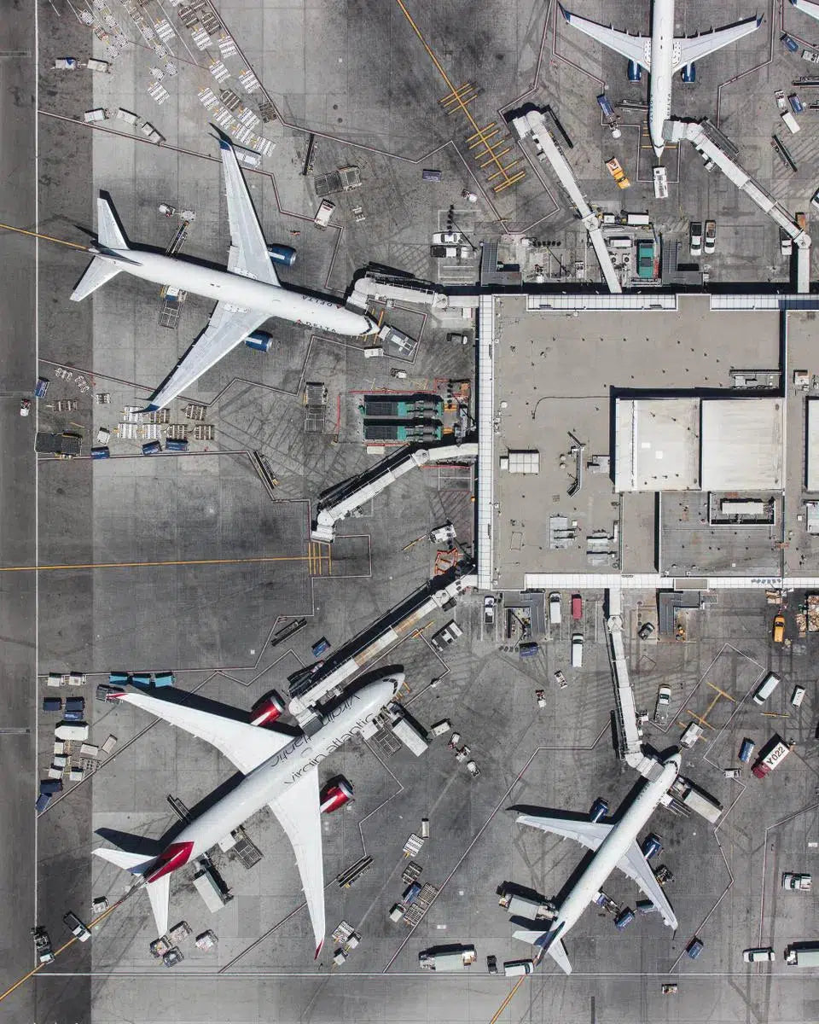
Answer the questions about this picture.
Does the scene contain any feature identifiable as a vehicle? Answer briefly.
Yes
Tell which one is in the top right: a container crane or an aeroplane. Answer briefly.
aeroplane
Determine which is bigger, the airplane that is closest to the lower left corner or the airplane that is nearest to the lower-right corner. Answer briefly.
the airplane that is closest to the lower left corner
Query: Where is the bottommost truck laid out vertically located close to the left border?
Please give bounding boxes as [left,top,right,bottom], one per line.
[34,926,55,966]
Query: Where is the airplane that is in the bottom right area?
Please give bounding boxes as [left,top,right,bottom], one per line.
[512,754,682,974]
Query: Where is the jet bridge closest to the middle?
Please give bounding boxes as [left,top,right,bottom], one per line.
[311,442,479,543]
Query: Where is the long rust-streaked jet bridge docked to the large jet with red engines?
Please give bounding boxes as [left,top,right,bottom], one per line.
[287,570,479,737]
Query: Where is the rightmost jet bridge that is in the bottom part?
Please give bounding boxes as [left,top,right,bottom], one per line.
[604,588,668,784]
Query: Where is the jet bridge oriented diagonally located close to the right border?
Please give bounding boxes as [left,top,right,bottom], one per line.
[662,119,811,294]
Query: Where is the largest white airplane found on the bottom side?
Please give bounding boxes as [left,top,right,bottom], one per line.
[92,673,405,961]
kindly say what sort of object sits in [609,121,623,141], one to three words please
work vehicle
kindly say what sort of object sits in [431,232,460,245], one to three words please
vehicle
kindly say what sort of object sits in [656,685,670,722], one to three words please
vehicle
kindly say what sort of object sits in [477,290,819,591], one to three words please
building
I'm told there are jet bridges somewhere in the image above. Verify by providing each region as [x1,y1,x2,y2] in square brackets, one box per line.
[604,588,668,784]
[287,570,479,737]
[311,442,479,543]
[342,267,479,315]
[505,110,629,294]
[662,119,811,294]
